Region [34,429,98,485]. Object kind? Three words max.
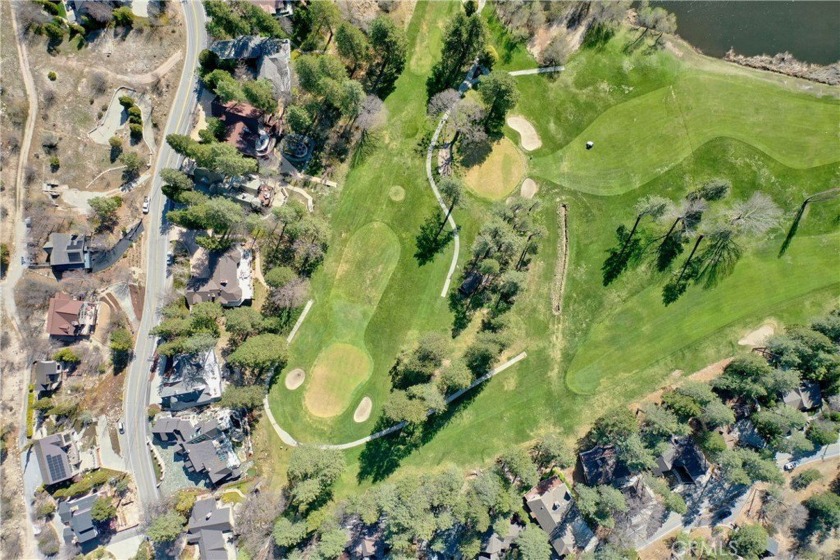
house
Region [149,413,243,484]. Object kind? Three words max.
house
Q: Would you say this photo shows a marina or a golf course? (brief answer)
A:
golf course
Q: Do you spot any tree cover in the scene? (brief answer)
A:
Yes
